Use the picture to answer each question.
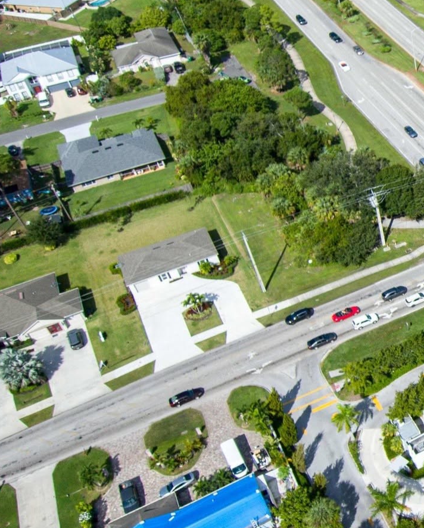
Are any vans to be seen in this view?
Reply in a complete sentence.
Yes, you can see a van in this photo.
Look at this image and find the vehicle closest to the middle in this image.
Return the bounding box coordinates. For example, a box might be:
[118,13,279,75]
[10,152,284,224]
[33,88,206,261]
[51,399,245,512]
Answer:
[285,305,316,327]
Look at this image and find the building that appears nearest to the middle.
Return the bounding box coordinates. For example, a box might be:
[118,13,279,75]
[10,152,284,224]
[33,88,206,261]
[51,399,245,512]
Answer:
[121,226,218,293]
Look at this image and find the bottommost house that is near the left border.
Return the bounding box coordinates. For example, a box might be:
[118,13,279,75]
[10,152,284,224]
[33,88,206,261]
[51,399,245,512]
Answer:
[0,269,87,347]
